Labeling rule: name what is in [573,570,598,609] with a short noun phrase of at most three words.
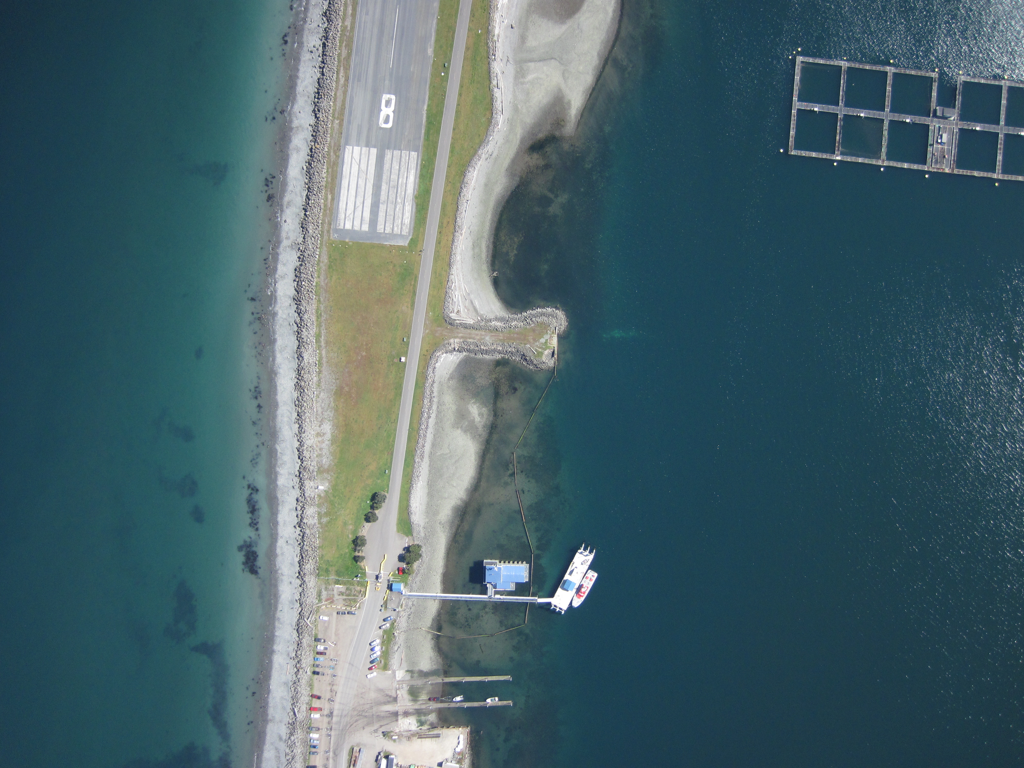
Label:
boat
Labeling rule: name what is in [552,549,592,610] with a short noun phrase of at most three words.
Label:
ship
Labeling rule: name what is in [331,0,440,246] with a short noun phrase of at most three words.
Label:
runway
